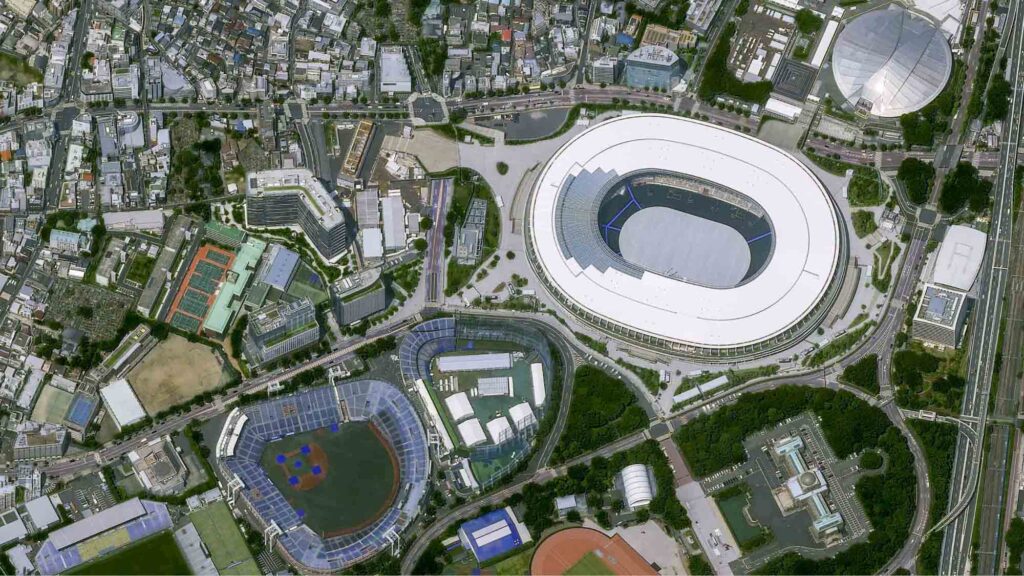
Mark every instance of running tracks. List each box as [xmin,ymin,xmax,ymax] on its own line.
[529,525,662,576]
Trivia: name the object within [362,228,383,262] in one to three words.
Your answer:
shed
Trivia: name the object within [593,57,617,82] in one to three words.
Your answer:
building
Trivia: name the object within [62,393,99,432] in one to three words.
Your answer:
sports court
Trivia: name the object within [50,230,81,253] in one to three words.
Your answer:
building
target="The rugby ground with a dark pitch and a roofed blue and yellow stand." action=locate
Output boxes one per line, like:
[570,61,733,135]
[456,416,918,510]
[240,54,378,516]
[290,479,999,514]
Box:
[38,498,220,576]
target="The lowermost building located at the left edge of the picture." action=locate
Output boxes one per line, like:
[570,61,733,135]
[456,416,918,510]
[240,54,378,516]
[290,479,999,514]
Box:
[5,545,36,576]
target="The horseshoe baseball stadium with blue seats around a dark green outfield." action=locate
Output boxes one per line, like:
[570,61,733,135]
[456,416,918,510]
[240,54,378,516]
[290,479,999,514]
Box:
[217,379,431,575]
